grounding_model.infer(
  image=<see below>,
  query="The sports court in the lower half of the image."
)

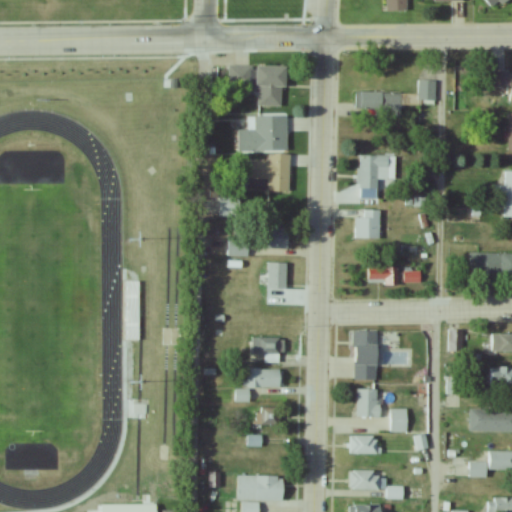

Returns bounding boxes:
[6,444,58,470]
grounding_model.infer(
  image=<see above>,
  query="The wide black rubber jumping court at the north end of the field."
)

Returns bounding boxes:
[0,151,64,185]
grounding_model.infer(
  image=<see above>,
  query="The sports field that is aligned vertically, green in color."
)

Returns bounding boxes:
[0,131,102,488]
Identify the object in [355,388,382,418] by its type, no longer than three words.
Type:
house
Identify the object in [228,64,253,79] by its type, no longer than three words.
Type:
building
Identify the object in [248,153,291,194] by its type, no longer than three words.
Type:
house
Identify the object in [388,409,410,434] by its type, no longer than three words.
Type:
building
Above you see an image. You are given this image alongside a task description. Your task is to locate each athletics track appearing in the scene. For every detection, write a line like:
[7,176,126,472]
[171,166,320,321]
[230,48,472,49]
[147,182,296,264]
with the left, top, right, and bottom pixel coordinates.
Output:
[0,110,123,509]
